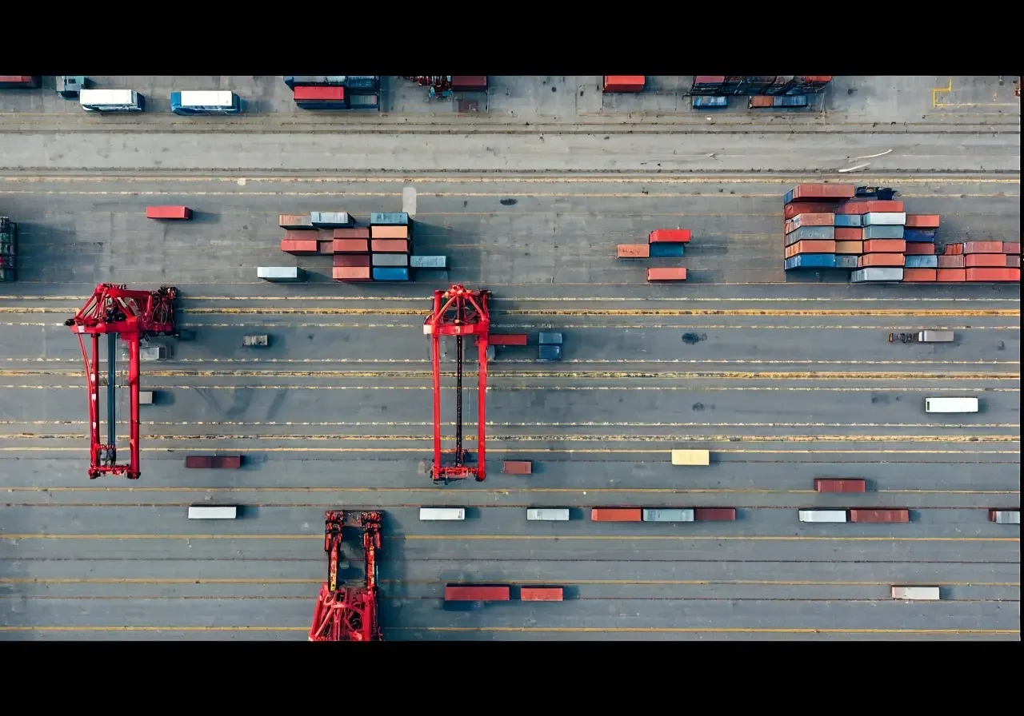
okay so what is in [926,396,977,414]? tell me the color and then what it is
white vehicle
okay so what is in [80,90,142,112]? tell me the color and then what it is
white bus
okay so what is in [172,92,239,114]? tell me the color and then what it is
white bus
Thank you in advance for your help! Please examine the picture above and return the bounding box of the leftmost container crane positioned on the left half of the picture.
[63,283,185,480]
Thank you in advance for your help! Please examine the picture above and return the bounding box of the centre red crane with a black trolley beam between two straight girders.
[423,282,492,484]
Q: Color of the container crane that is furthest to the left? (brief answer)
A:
red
